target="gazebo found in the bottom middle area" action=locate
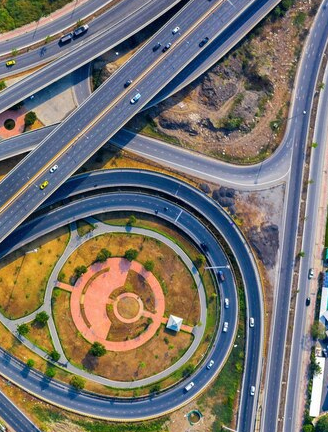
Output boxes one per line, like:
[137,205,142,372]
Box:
[164,315,182,332]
